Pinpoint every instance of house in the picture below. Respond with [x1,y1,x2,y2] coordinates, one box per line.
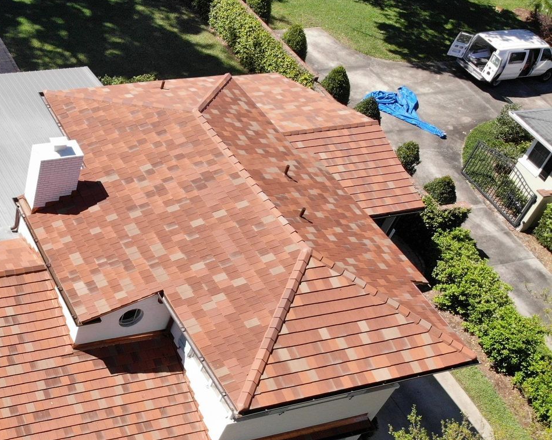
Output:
[0,63,483,440]
[493,105,552,202]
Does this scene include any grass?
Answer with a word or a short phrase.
Yes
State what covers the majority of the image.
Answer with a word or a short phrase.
buildings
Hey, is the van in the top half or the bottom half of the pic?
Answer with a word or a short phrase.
top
